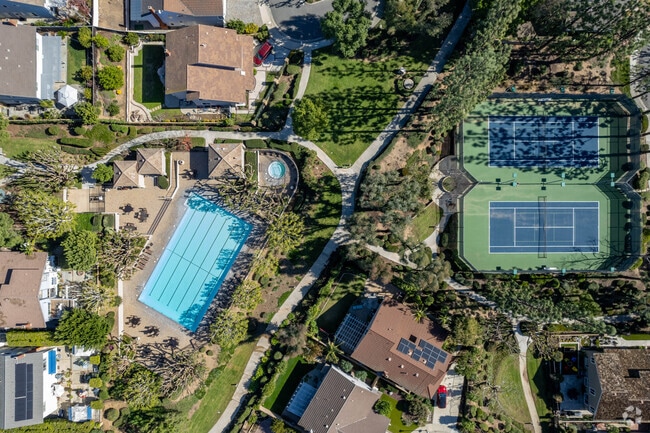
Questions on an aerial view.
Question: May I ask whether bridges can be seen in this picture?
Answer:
No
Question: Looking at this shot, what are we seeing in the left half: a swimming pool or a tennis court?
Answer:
swimming pool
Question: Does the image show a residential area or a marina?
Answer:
residential area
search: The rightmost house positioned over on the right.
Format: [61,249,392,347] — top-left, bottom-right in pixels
[580,348,650,421]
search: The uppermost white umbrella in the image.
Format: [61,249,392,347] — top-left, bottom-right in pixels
[60,86,78,107]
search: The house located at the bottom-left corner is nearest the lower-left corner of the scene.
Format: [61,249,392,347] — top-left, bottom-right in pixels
[0,347,57,429]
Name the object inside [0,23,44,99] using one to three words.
house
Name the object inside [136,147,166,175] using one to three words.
building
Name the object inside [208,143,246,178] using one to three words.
building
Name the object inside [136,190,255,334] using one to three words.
swimming pool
